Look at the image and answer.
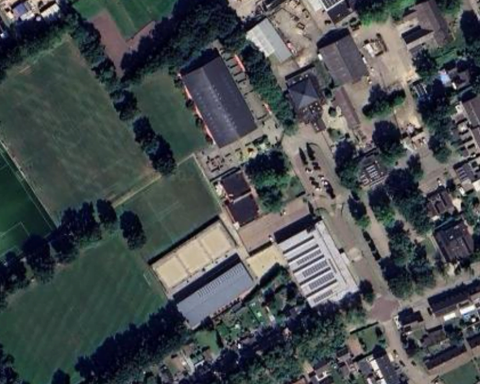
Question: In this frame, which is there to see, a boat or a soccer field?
soccer field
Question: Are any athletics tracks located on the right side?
No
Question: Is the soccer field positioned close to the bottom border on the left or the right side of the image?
left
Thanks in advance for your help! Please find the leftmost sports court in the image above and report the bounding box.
[157,258,186,286]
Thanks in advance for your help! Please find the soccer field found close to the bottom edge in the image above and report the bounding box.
[0,235,173,384]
